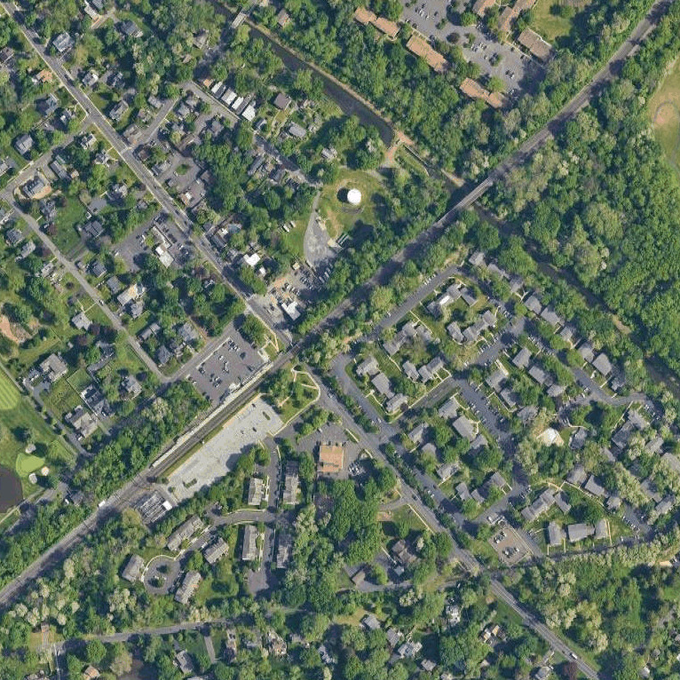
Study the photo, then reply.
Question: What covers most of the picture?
trees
